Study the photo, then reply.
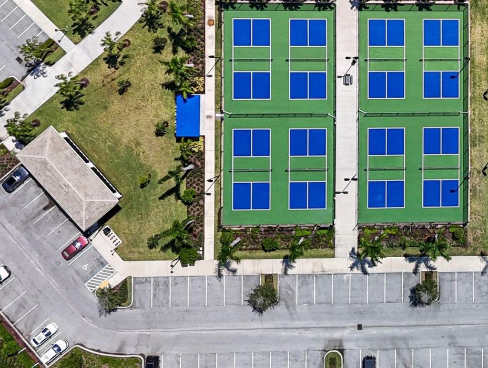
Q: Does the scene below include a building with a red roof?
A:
No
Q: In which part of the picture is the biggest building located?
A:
left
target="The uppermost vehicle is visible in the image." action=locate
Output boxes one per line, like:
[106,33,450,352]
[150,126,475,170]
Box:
[0,167,26,193]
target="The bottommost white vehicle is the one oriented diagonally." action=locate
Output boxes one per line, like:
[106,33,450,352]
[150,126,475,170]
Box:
[36,340,68,367]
